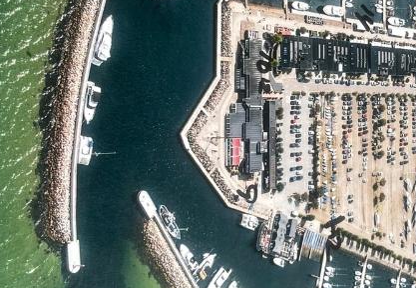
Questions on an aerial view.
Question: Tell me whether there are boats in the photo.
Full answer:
Yes, I can see a boat in this picture.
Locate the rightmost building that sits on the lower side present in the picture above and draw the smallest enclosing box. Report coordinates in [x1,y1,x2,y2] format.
[302,229,331,249]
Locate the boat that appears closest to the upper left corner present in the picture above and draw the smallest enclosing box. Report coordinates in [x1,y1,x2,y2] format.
[94,14,112,66]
